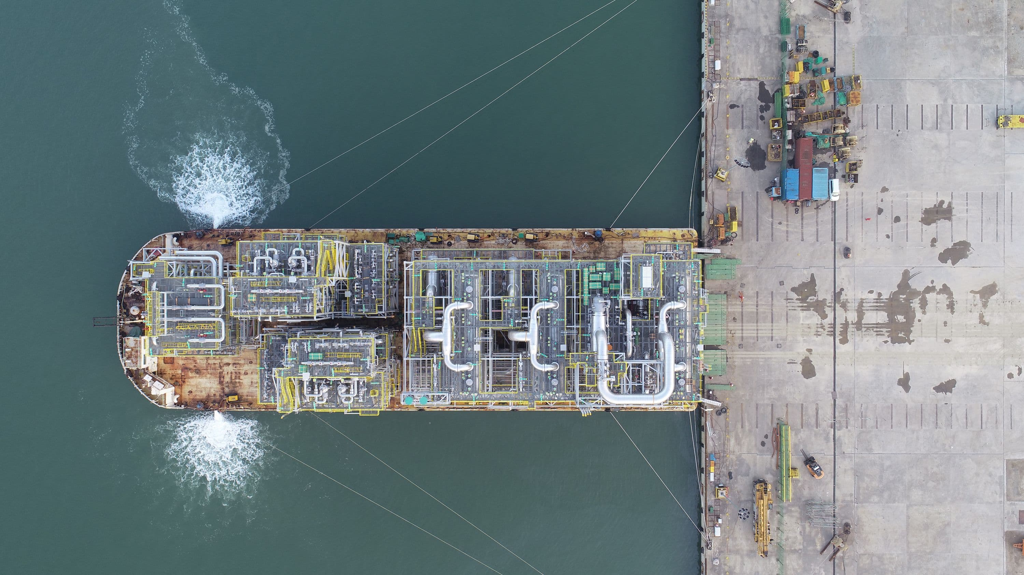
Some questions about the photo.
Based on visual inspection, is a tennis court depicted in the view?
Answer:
No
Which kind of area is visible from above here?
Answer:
port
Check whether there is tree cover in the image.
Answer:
No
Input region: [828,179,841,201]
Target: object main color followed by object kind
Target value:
white vehicle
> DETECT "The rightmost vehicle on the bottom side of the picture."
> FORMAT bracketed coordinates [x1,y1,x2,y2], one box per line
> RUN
[800,449,825,479]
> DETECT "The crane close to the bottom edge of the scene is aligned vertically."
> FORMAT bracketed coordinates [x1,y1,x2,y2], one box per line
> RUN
[753,477,774,558]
